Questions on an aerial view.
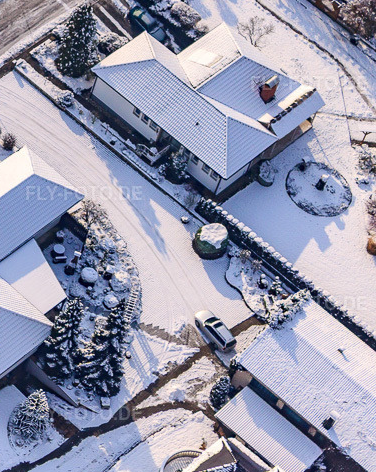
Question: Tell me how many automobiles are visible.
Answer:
2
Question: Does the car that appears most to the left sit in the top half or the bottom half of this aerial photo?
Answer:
top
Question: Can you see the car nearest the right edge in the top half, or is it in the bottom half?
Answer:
bottom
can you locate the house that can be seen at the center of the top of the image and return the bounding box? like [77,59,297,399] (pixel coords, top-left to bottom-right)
[91,21,325,201]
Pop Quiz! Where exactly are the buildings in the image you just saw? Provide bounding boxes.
[91,21,325,201]
[0,146,83,377]
[156,437,294,472]
[238,299,376,472]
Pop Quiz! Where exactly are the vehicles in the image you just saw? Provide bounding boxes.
[132,5,169,41]
[195,304,238,350]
